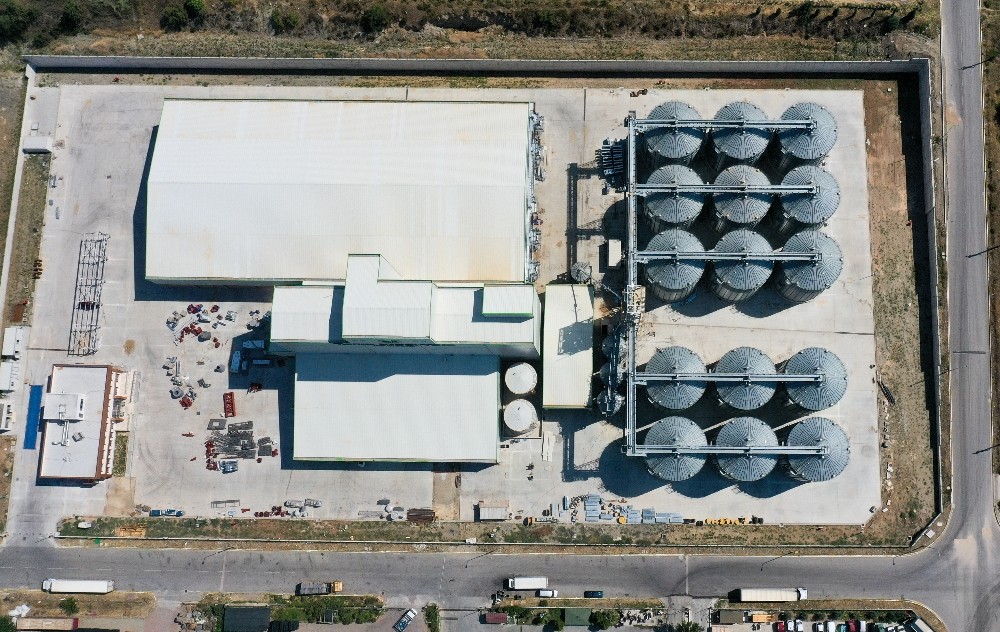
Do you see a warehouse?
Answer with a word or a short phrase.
Yes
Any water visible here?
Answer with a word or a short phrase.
No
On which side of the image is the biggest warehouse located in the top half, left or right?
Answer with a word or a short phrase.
left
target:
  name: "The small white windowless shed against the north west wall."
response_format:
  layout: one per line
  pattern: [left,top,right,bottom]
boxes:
[22,136,54,153]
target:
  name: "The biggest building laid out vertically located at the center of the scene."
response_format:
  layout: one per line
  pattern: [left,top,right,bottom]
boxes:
[542,283,595,410]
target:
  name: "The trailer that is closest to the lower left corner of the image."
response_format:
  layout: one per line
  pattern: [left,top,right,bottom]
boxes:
[16,616,81,630]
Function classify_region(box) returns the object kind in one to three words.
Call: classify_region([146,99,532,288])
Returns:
warehouse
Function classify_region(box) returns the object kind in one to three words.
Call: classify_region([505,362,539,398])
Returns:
storage tank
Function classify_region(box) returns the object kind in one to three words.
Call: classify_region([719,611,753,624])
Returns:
vehicle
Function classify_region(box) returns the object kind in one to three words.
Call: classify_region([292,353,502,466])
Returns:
building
